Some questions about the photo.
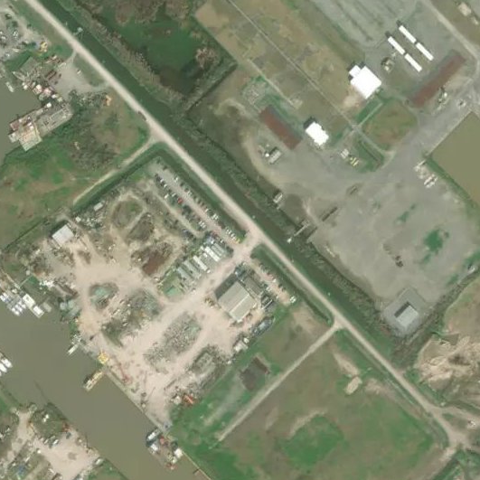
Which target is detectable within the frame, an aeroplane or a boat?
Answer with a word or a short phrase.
boat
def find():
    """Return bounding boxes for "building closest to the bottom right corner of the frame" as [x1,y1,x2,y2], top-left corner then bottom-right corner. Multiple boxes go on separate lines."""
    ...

[395,304,419,327]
